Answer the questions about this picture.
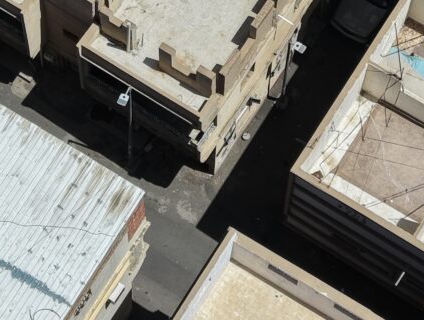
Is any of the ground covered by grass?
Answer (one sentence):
No, the scene doesn't show any grass.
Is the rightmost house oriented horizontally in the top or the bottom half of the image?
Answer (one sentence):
You can find the rightmost house oriented horizontally in the bottom half.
